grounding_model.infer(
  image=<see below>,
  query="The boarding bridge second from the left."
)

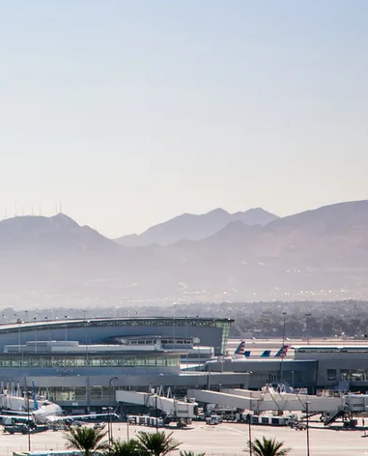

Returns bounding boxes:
[109,379,196,422]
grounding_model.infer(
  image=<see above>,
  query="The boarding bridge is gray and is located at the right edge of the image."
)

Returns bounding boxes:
[247,386,368,427]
